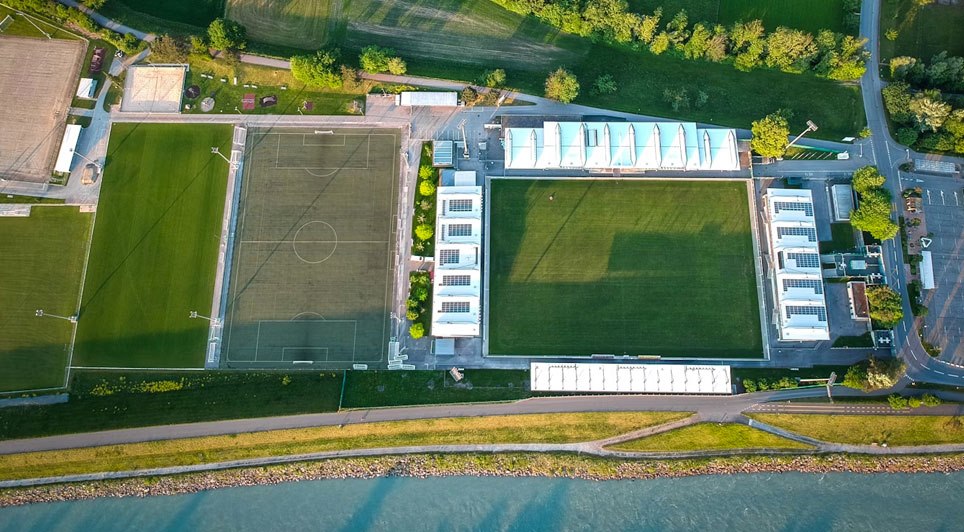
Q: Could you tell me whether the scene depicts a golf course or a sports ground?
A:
sports ground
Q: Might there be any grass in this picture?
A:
Yes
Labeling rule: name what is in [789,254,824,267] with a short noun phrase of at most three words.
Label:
solar array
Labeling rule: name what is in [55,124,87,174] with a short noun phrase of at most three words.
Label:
building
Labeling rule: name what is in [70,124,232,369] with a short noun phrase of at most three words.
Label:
soccer field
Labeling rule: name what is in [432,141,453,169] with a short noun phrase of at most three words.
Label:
shed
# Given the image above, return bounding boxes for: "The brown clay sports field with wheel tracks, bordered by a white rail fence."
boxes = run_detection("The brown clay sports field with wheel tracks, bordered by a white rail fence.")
[0,35,87,184]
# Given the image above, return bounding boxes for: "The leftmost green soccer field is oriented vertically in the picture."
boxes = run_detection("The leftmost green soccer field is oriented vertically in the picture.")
[0,209,89,393]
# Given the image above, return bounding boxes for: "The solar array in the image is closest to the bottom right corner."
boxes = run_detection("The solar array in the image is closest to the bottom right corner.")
[786,307,830,321]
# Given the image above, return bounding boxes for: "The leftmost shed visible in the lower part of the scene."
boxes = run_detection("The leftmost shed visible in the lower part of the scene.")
[435,338,456,355]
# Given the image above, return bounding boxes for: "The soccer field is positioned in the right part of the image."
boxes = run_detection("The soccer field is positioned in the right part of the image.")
[482,173,773,363]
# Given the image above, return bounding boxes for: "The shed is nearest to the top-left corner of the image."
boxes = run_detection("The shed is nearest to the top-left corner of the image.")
[76,77,106,100]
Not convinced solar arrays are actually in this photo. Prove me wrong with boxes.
[778,228,821,241]
[783,280,827,294]
[442,276,471,286]
[776,203,818,217]
[451,201,474,211]
[786,307,830,321]
[441,302,470,313]
[789,254,824,267]
[450,225,474,236]
[440,250,460,263]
